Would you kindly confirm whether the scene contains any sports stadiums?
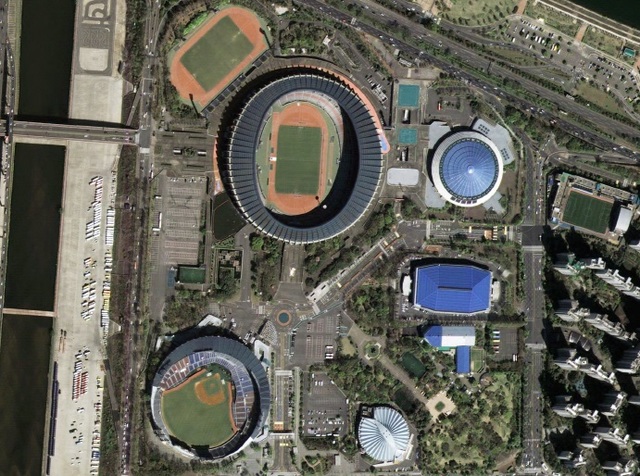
Yes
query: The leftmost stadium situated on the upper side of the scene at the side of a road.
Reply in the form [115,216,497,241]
[209,58,392,245]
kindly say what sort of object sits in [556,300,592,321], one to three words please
building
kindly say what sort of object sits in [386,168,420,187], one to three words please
sports court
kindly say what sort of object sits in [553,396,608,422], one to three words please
building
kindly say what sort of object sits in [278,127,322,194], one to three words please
sports field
